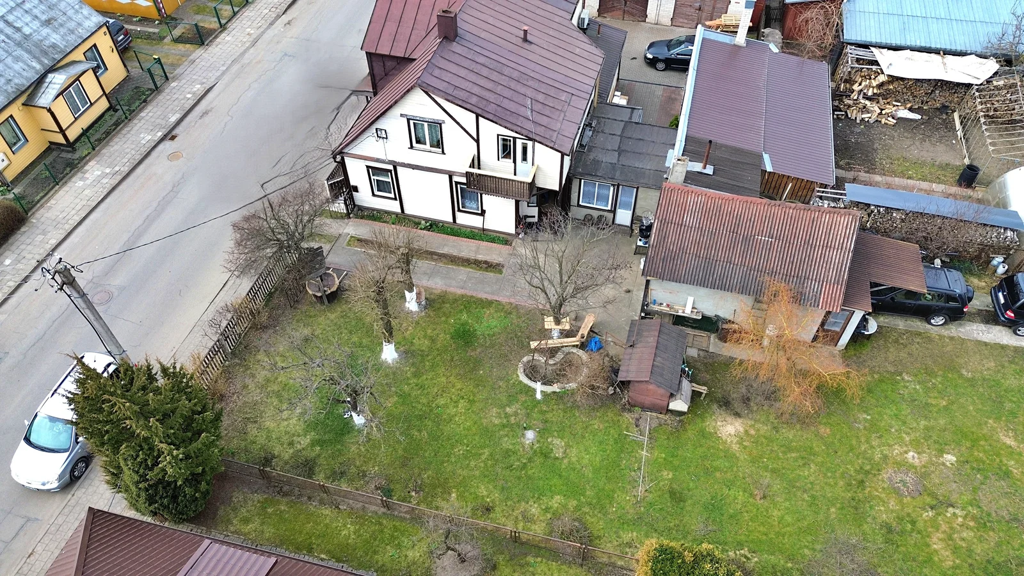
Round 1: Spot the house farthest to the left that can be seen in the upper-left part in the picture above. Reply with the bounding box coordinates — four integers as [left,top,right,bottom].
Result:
[0,0,131,191]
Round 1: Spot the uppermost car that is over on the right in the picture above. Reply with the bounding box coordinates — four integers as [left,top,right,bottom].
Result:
[643,33,691,71]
